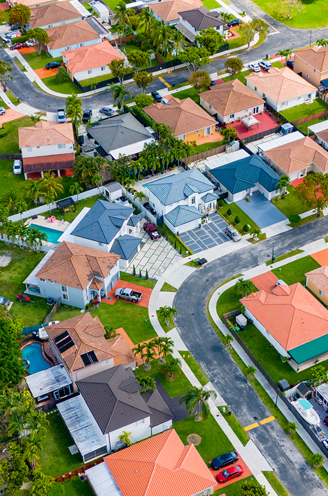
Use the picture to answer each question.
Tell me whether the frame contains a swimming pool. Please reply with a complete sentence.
Yes, this view includes a swimming pool.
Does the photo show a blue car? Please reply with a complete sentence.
Yes, a blue car appears in the view.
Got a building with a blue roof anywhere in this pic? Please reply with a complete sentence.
Yes, I can see a building with a blue roof in this picture.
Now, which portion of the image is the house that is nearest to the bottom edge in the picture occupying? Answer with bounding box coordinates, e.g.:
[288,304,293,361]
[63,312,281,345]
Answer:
[84,426,219,496]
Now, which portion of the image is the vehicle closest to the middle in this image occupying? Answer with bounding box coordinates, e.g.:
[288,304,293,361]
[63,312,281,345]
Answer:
[143,220,162,239]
